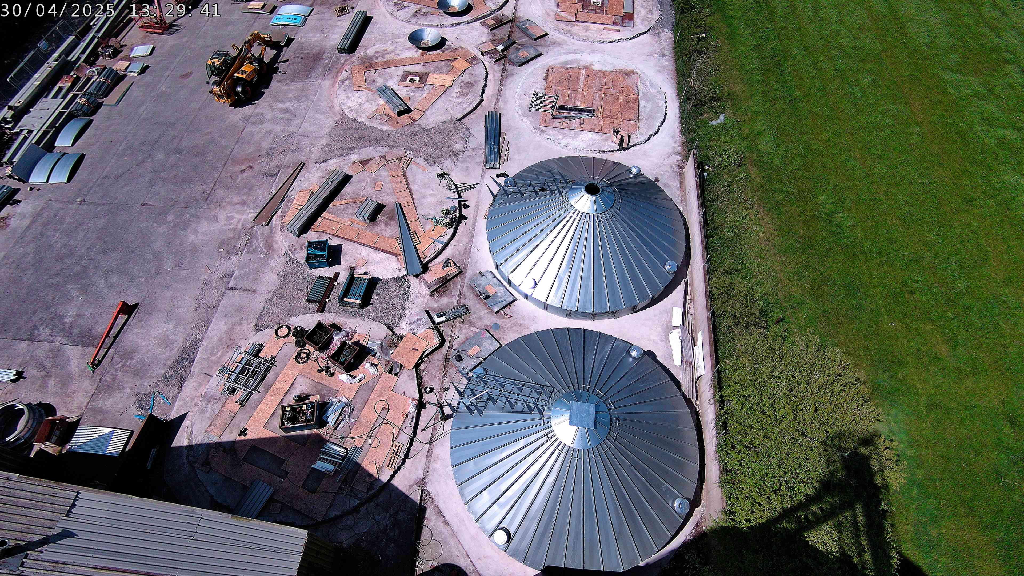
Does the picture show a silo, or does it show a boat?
silo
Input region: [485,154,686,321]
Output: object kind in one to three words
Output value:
silo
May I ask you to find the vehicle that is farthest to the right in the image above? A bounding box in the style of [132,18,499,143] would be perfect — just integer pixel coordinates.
[200,34,281,103]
